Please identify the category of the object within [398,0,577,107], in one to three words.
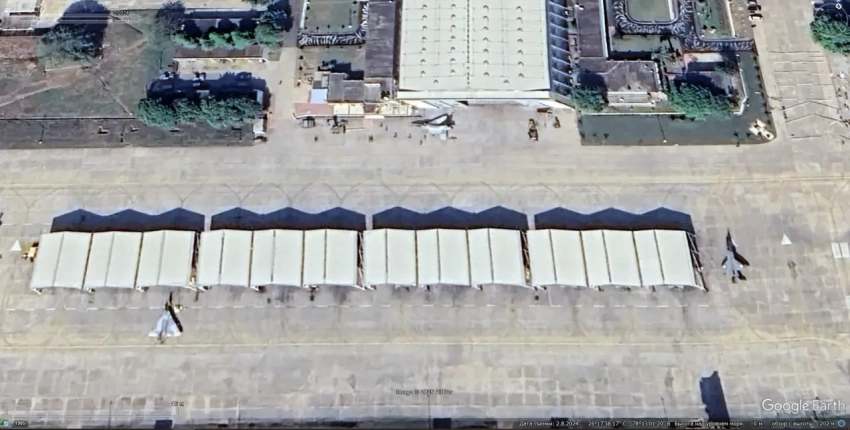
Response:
hangar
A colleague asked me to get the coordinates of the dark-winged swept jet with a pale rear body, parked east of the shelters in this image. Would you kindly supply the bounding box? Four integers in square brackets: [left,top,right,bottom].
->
[720,232,750,283]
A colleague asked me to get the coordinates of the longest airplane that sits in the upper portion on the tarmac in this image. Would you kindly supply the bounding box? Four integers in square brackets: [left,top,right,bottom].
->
[408,110,457,136]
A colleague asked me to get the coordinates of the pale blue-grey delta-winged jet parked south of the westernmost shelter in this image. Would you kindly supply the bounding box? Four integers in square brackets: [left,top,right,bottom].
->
[147,292,181,343]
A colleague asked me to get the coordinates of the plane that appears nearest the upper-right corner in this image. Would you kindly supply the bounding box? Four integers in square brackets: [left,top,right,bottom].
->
[751,117,779,138]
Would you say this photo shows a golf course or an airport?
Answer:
airport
